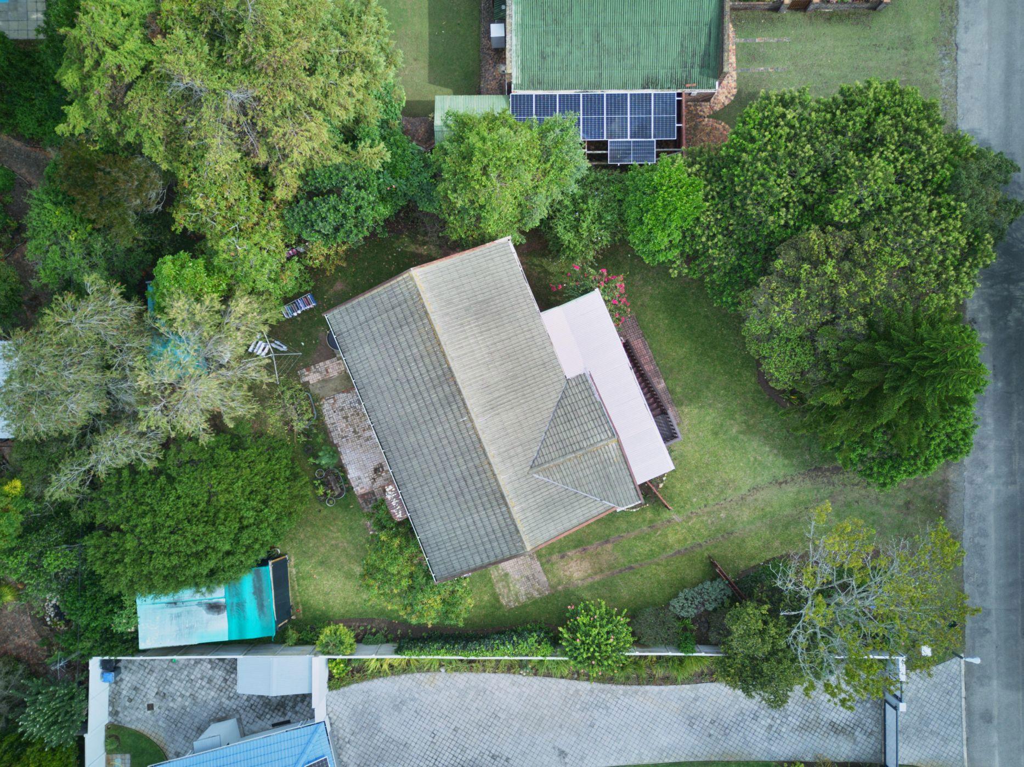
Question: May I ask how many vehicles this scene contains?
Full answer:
The photo contains no vehicles.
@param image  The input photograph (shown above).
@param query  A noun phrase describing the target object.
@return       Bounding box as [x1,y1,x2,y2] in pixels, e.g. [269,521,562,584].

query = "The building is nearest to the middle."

[321,236,676,584]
